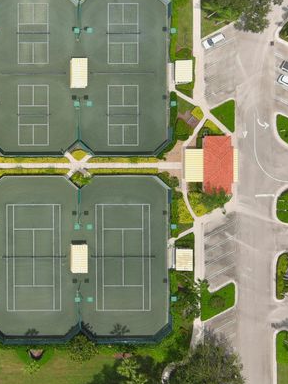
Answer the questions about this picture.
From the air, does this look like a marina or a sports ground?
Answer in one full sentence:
This image shows a sports ground.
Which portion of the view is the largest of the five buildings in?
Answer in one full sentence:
The largest of the five buildings is in the right part of the image.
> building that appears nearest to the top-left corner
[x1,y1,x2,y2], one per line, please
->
[70,59,87,89]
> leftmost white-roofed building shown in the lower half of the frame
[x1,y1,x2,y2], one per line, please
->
[70,244,87,273]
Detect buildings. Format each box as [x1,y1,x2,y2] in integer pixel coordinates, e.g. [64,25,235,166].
[181,135,238,197]
[70,244,87,273]
[172,60,192,85]
[172,248,192,271]
[70,59,87,89]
